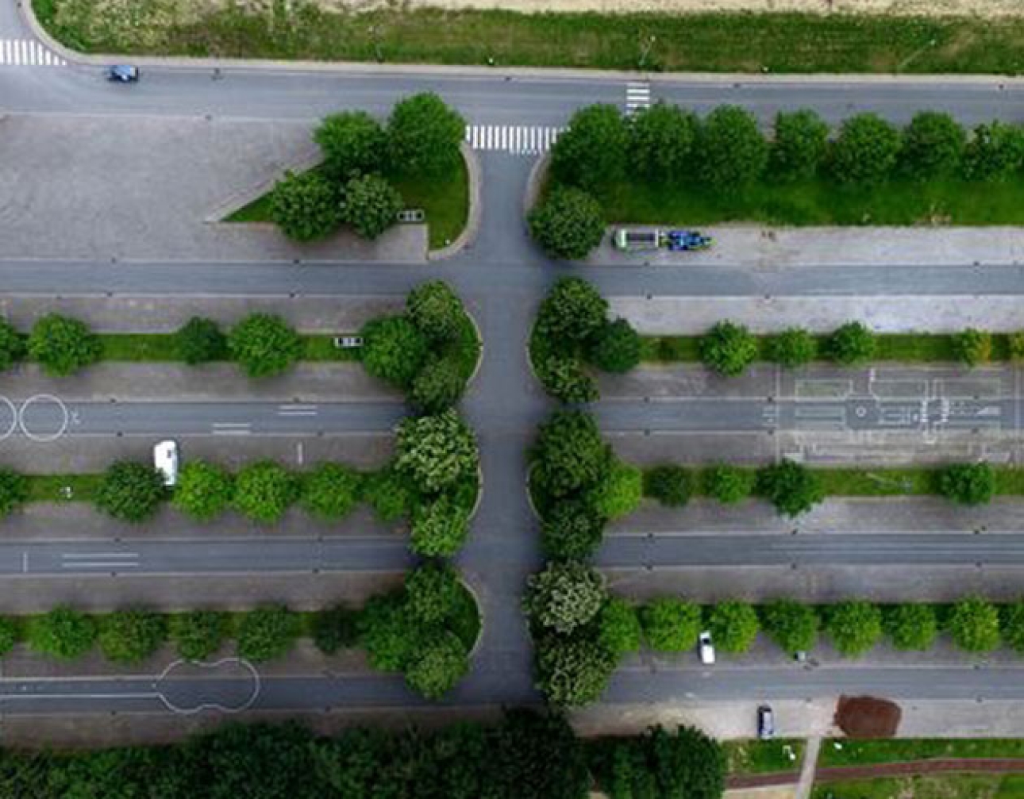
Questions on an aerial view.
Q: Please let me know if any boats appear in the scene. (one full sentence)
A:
No, the frame has no boat in it.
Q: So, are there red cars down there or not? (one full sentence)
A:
No, I can see no red car in this picture.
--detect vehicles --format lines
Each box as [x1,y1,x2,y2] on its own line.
[665,225,713,250]
[107,63,136,79]
[153,443,178,484]
[757,709,773,739]
[697,631,713,663]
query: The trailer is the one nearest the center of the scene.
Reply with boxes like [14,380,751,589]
[614,228,667,247]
